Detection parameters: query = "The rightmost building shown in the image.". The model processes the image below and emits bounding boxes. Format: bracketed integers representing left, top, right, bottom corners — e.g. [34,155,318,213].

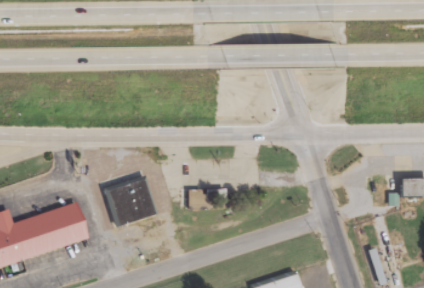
[398,178,424,196]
